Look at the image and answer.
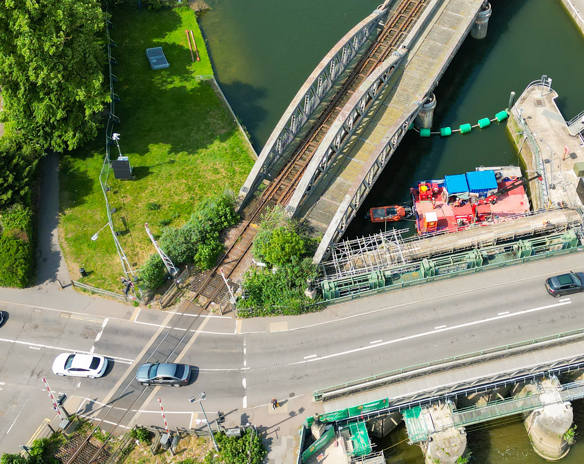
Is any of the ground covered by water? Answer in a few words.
Yes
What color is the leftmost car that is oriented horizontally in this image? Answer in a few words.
white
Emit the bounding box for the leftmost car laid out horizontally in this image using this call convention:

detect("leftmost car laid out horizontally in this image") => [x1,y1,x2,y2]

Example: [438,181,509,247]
[51,350,111,379]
